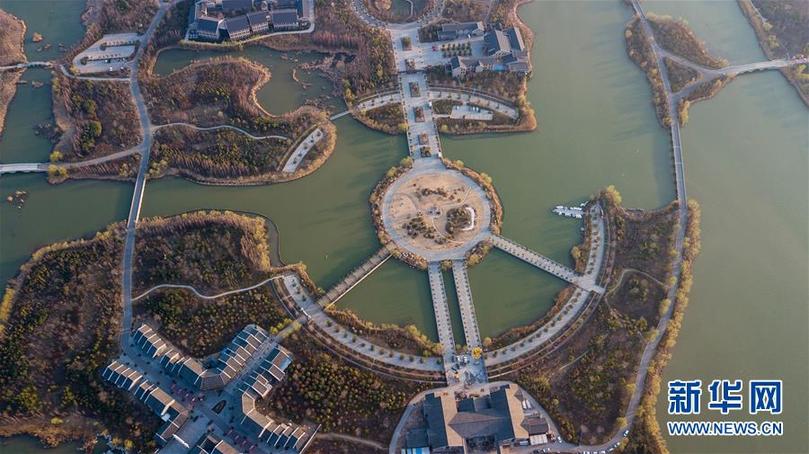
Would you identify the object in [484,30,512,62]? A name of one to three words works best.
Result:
building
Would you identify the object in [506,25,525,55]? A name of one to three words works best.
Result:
building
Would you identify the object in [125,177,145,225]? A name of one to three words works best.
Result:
bridge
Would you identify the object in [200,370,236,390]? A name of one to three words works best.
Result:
house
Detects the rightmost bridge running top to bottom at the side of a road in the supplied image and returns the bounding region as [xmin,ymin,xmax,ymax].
[671,123,690,204]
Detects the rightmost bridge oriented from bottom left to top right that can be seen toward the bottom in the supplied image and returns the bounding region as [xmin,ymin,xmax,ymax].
[315,244,393,310]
